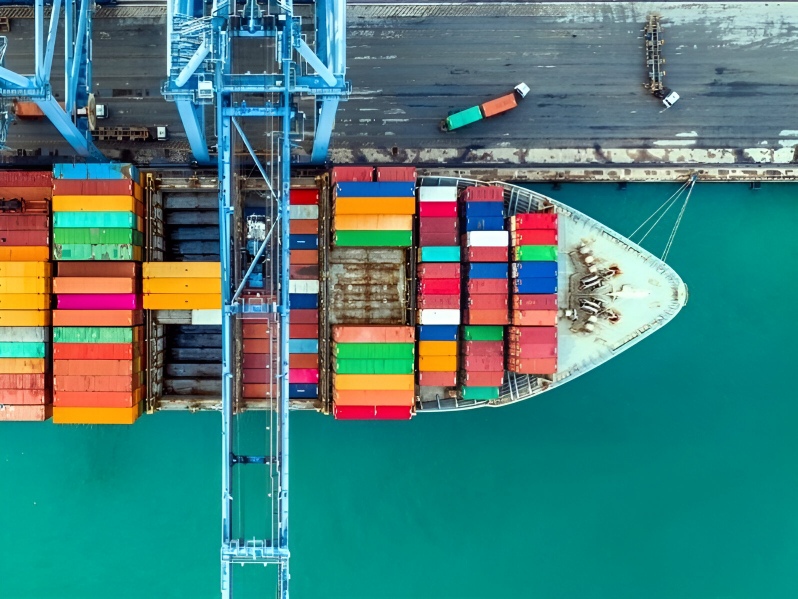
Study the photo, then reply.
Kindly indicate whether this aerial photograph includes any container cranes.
Yes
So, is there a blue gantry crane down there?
Yes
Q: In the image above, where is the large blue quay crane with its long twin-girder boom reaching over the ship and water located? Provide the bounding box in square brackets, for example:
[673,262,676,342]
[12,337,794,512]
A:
[160,0,355,599]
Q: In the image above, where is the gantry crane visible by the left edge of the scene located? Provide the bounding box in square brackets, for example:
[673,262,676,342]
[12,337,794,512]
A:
[0,0,109,166]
